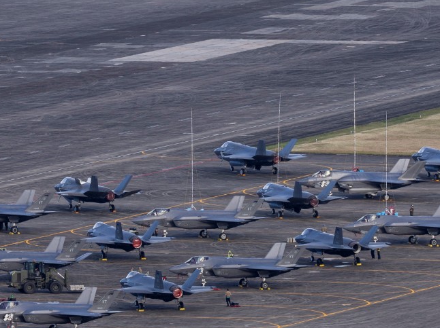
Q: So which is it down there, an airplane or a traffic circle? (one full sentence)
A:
It is an airplane that can be seen here.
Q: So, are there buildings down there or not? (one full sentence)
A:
No, I can see no building in this picture.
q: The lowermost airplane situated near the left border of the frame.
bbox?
[0,283,130,328]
